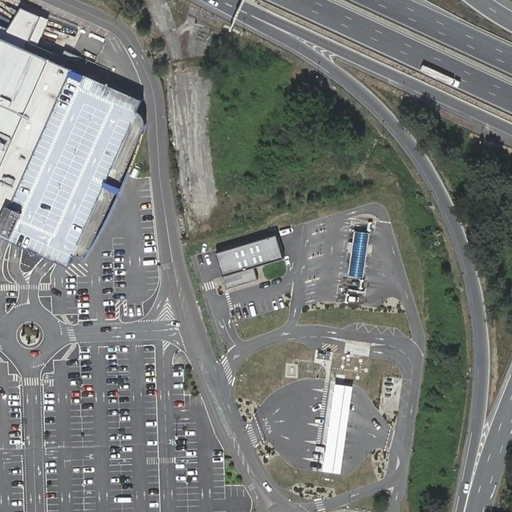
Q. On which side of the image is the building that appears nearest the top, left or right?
left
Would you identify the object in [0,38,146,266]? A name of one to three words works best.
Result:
building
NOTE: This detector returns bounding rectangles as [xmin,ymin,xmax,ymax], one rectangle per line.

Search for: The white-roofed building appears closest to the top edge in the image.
[6,8,53,56]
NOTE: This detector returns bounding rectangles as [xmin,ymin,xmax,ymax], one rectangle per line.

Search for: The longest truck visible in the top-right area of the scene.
[420,62,458,85]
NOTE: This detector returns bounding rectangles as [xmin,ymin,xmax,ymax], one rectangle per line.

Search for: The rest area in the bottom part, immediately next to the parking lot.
[185,203,425,512]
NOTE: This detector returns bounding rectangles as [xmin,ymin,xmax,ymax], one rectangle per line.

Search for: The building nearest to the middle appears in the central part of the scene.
[216,236,282,288]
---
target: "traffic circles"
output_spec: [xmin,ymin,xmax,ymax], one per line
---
[0,302,63,368]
